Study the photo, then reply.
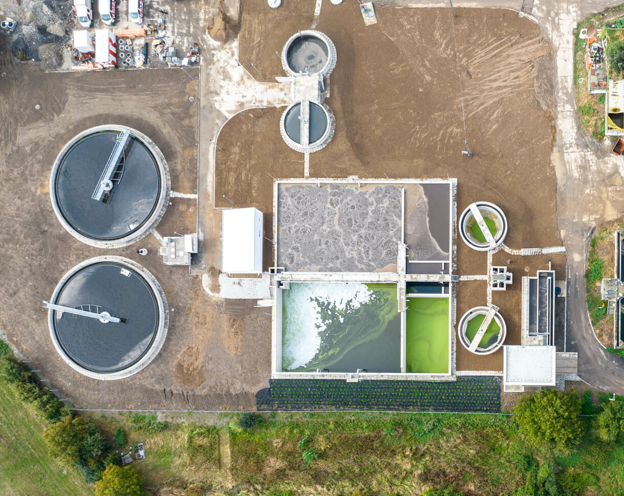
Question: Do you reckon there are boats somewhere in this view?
No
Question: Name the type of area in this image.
industrial area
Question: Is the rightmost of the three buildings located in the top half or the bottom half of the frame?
bottom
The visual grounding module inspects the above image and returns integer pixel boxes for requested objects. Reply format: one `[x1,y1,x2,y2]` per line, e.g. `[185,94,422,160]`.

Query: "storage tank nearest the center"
[280,100,336,152]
